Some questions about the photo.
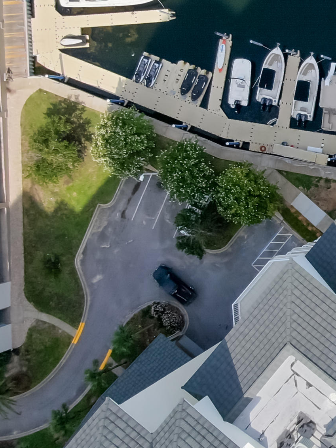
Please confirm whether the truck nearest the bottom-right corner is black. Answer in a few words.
Yes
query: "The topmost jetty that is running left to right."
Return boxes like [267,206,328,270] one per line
[57,9,169,28]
